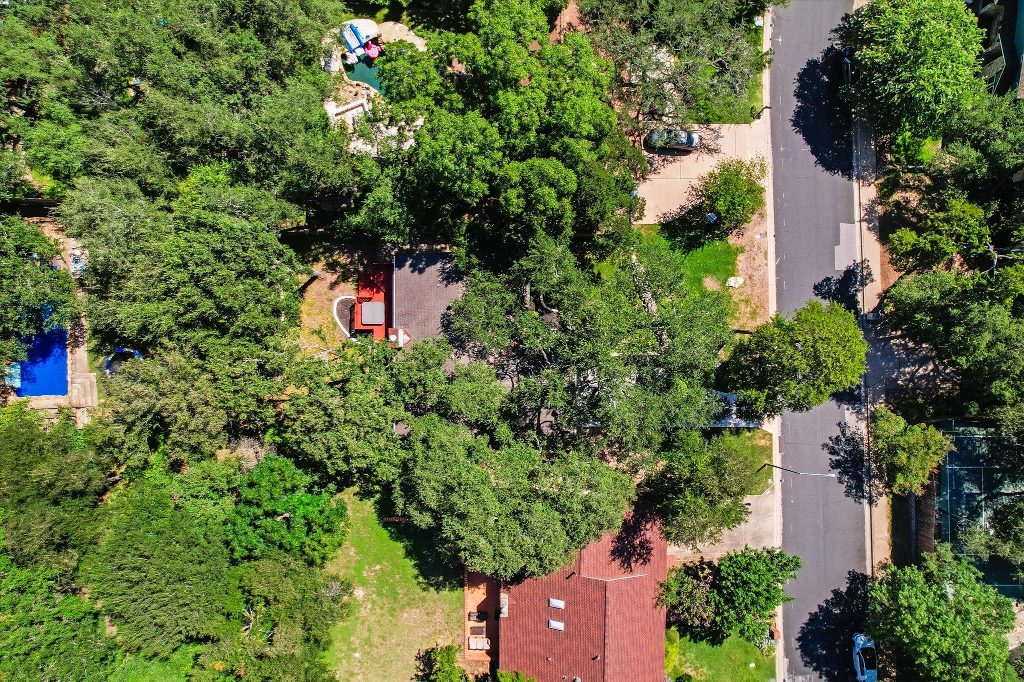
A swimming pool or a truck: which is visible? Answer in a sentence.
There is a swimming pool in the scene.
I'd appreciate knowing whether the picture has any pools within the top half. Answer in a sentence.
Yes, the scene does show a pool within the top half.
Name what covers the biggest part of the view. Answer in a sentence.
The bulk of the photo consists of trees.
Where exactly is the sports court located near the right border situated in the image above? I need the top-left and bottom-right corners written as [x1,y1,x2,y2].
[936,421,1024,598]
